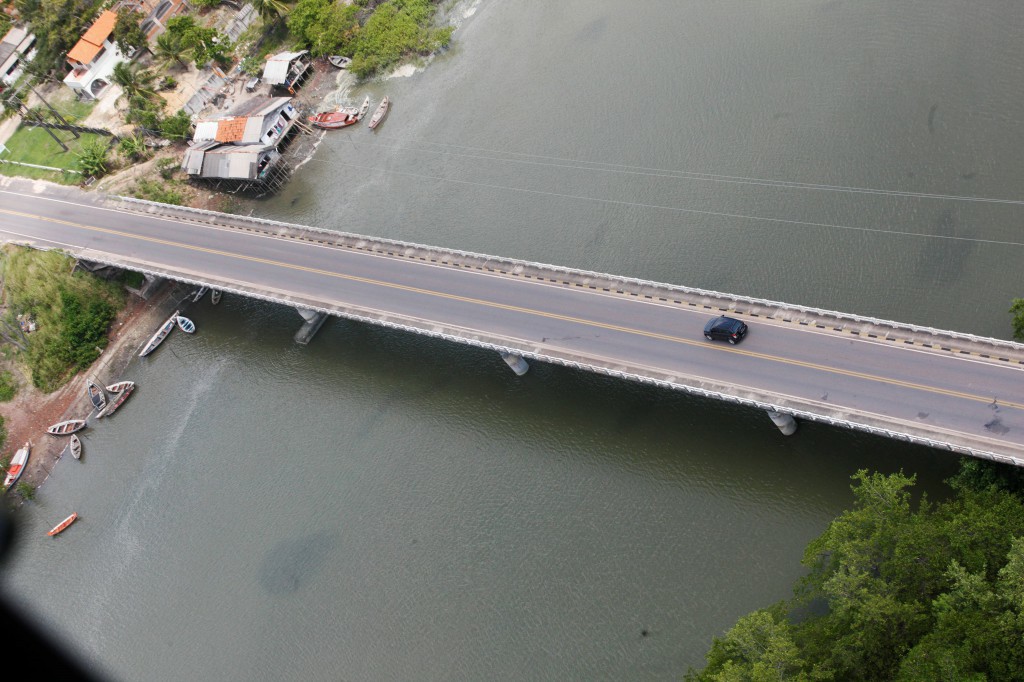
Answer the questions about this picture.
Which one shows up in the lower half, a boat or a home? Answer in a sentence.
You can see a boat in the lower half.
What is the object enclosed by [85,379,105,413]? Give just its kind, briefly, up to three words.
boat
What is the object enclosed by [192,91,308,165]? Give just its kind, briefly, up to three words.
house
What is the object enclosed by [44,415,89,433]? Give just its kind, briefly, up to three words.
boat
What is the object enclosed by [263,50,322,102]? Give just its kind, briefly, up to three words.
shed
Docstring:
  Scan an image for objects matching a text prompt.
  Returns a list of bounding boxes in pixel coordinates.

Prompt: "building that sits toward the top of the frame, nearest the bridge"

[186,141,294,200]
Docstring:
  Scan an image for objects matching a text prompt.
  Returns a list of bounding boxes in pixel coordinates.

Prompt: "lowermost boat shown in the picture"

[47,512,80,538]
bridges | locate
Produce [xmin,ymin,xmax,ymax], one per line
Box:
[64,196,1024,474]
